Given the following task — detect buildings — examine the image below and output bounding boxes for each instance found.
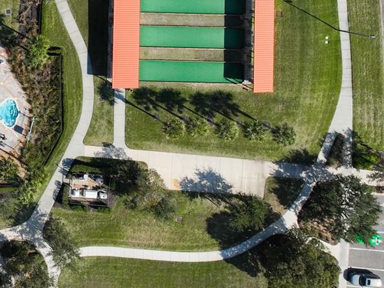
[108,0,140,89]
[245,0,275,93]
